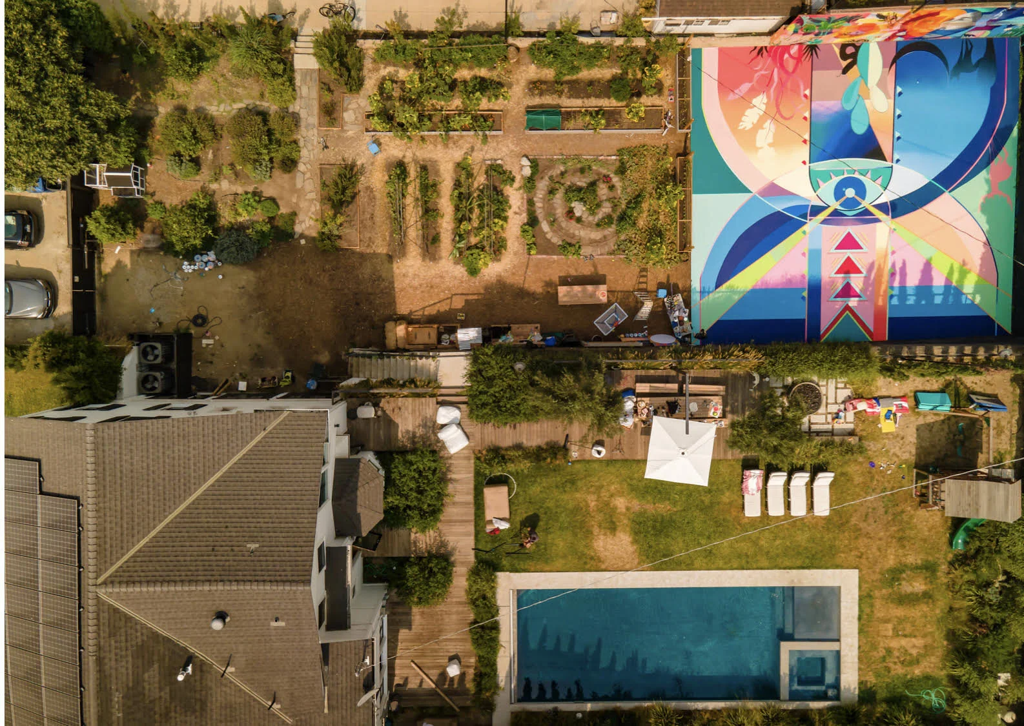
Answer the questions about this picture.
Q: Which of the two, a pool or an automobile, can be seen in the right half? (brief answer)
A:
pool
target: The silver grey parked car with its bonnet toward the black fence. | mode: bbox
[0,274,61,322]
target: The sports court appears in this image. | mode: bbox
[690,40,1021,347]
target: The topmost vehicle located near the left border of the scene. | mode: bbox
[0,206,41,253]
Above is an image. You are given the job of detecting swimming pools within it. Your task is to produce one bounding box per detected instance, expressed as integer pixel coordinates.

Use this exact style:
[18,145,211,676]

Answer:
[497,571,859,710]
